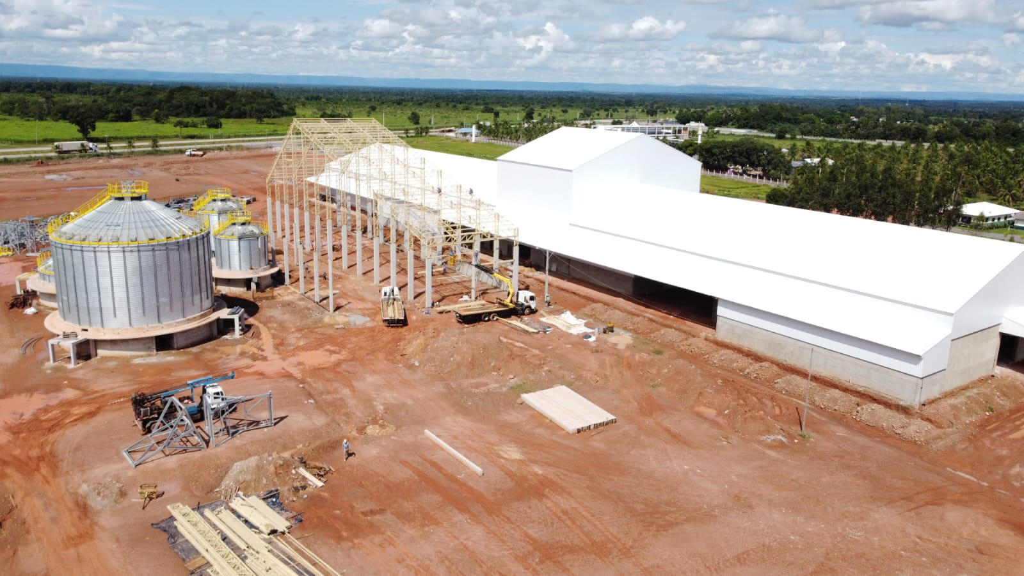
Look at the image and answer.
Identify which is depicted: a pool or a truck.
truck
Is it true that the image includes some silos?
Yes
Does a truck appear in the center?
Yes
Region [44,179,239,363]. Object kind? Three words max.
silo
